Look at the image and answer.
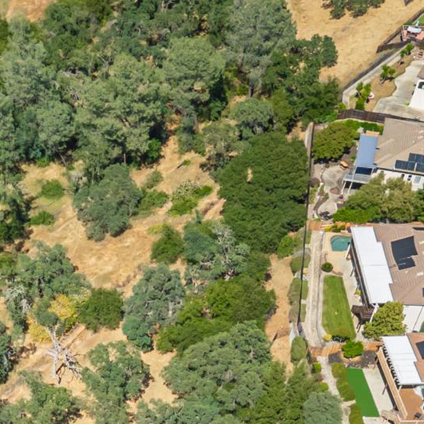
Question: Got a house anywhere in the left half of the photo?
No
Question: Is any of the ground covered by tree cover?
Yes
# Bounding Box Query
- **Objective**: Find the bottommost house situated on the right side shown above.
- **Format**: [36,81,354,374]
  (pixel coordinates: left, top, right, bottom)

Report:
[374,332,424,424]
